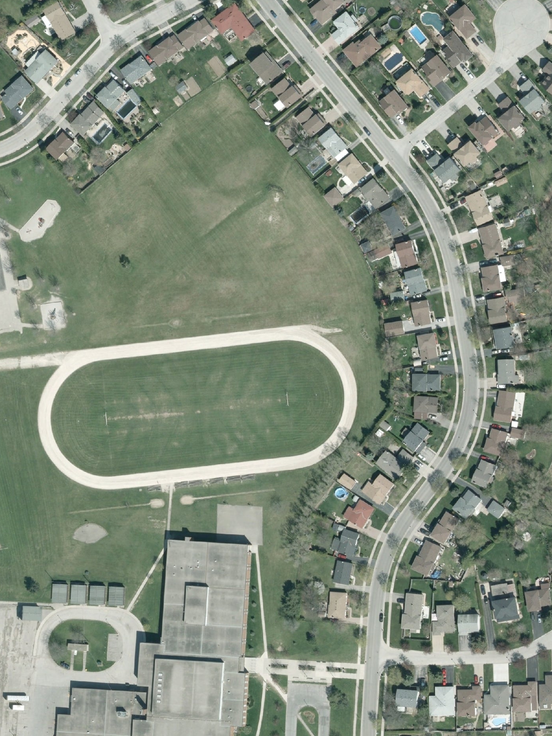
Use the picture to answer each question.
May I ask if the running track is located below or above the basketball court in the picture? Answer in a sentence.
Looking at the photo, you'll find the running track above the basketball court.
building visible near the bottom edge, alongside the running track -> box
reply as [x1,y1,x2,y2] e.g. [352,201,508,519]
[56,538,250,736]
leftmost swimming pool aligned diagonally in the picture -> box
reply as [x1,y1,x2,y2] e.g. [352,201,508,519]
[89,125,114,144]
